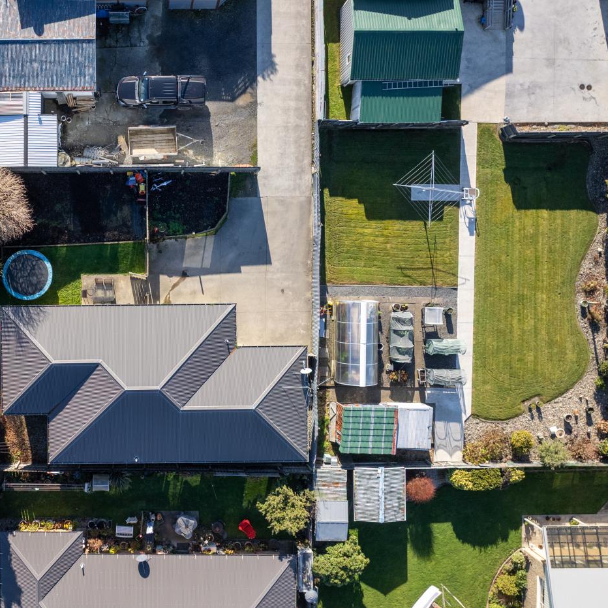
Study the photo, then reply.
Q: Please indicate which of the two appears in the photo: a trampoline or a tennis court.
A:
trampoline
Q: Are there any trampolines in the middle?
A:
No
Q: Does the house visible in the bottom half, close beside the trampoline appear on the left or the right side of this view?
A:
left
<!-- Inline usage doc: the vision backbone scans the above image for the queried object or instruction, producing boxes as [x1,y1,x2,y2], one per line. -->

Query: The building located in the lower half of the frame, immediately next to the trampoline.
[0,303,313,466]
